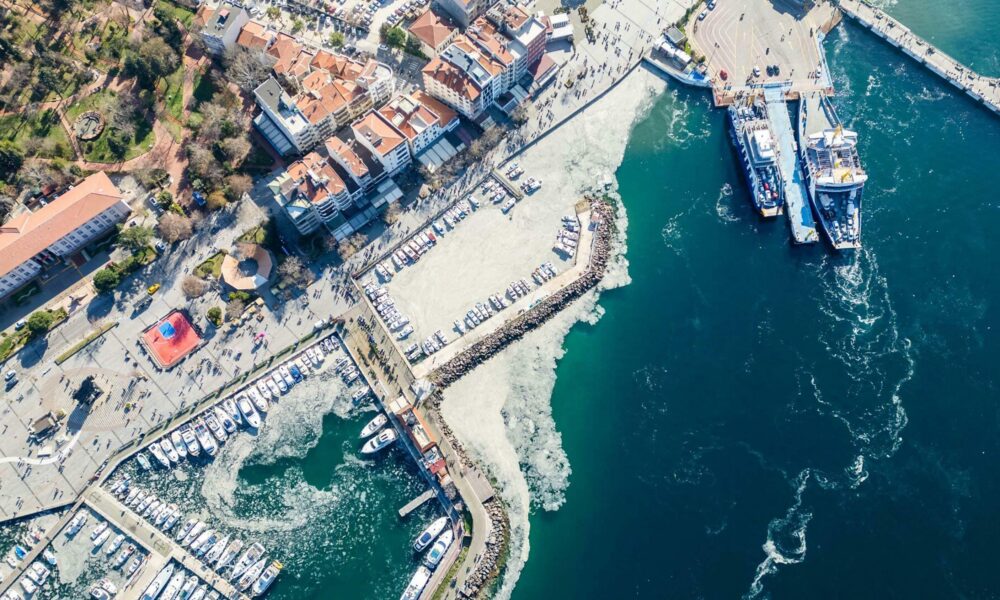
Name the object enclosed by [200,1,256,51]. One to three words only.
building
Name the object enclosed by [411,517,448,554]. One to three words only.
boat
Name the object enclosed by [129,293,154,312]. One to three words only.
vehicle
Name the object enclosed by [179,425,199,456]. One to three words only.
boat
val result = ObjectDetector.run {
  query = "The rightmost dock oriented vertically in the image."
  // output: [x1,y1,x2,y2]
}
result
[767,103,818,244]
